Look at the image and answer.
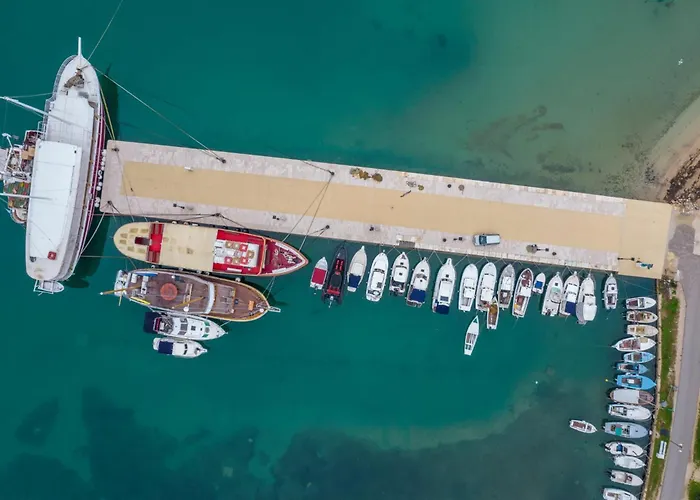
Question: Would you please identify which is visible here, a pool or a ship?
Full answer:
I can see a ship in this picture.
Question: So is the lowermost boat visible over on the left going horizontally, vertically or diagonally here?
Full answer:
In this picture, the lowermost boat visible over on the left is oriented horizontally.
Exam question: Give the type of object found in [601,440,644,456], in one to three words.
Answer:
boat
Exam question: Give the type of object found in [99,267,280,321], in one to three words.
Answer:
ship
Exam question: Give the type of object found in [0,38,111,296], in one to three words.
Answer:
ship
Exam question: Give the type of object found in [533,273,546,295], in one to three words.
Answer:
boat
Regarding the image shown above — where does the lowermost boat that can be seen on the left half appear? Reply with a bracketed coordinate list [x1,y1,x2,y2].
[152,336,209,357]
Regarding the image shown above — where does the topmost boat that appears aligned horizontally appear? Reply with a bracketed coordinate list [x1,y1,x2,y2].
[114,220,308,276]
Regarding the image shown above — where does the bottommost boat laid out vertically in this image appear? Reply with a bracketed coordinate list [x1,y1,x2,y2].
[464,316,480,355]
